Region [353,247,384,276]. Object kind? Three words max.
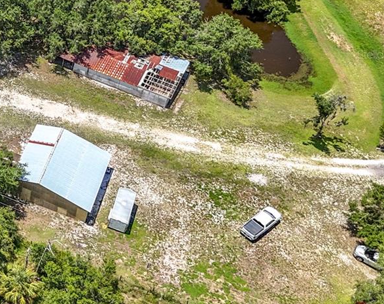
car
